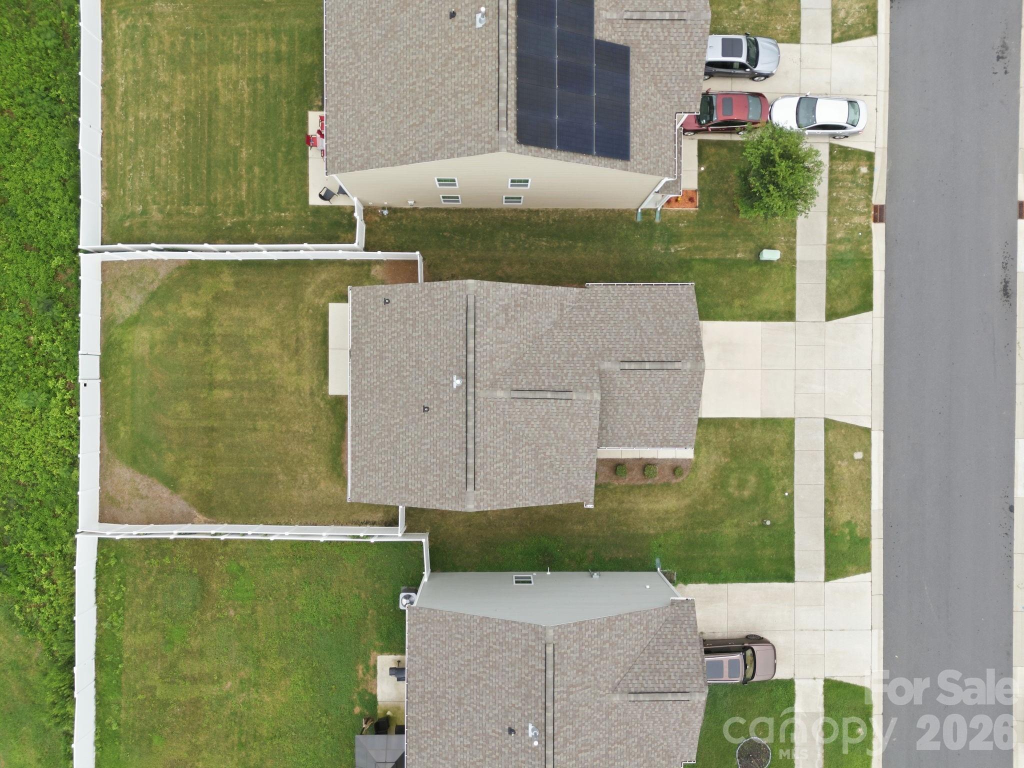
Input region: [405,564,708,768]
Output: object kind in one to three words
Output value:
house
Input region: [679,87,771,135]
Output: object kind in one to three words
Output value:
car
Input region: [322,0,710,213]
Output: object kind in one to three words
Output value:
house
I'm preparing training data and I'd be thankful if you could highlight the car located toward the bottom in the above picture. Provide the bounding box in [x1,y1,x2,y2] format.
[700,634,778,686]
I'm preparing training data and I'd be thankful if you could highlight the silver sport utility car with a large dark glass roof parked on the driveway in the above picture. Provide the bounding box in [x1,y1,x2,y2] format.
[704,29,782,81]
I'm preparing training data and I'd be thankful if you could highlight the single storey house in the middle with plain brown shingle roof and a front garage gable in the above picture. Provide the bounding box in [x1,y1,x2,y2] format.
[346,279,704,511]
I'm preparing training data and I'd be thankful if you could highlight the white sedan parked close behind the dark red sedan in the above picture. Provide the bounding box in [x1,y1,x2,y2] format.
[768,91,869,139]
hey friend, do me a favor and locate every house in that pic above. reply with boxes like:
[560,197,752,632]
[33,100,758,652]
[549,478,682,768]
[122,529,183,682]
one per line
[322,0,710,213]
[346,279,704,511]
[405,564,708,768]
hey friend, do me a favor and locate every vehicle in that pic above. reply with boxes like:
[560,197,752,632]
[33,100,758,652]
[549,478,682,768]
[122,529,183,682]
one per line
[704,29,782,81]
[768,91,869,139]
[700,634,778,686]
[679,87,771,135]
